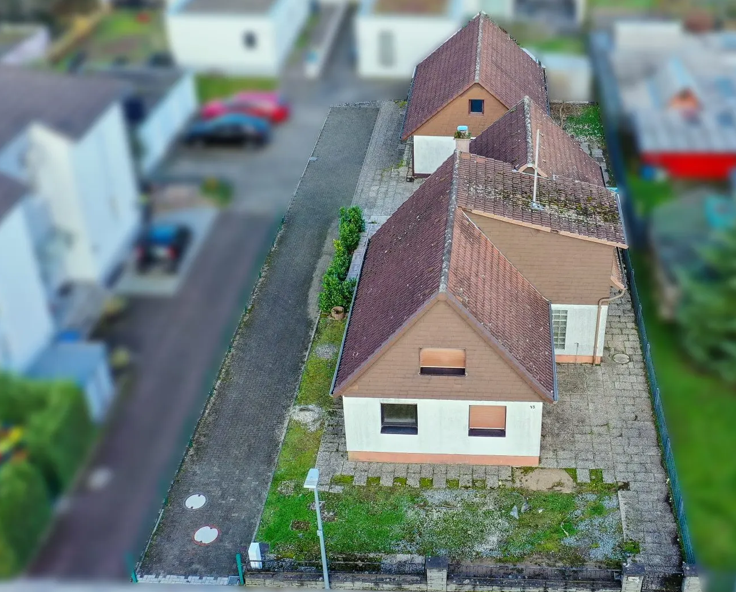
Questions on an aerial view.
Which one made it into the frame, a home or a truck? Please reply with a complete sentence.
There is a home in the scene.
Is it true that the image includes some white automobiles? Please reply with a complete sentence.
No, the photo shows no white automobile.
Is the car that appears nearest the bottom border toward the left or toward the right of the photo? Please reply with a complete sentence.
The car that appears nearest the bottom border appears in the left half of the scene.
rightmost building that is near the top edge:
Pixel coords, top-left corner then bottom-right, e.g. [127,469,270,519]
[614,3,736,191]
